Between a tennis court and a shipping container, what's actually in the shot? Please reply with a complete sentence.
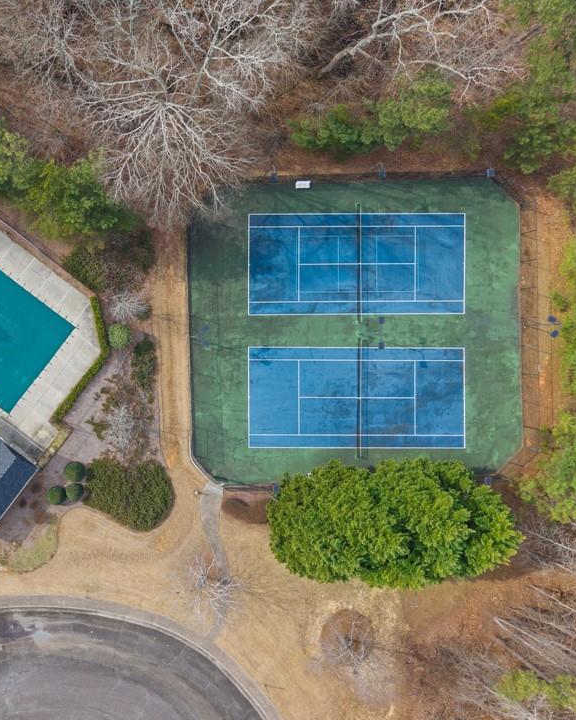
Looking from above, you can make out a tennis court.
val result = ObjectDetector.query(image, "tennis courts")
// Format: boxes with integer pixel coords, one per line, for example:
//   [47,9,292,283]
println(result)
[248,213,466,315]
[248,347,466,449]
